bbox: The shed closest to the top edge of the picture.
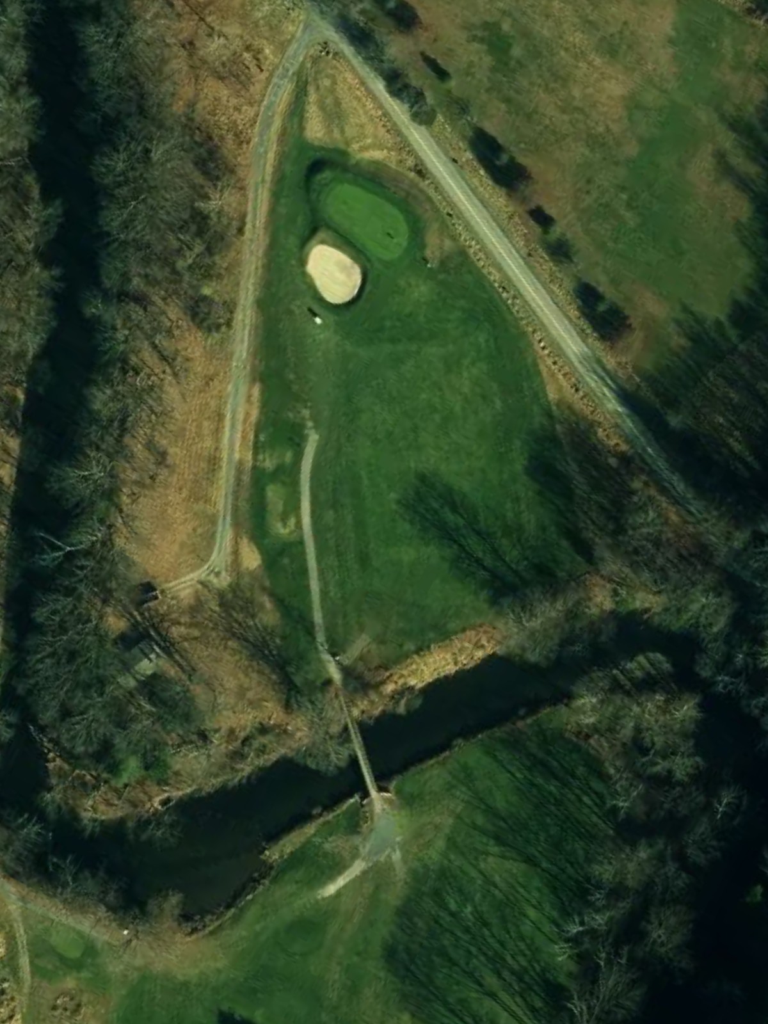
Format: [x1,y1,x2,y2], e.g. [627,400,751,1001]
[133,581,160,607]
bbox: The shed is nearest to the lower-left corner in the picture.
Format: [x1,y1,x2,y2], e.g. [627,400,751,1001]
[110,646,160,692]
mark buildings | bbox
[133,581,160,607]
[110,646,160,692]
